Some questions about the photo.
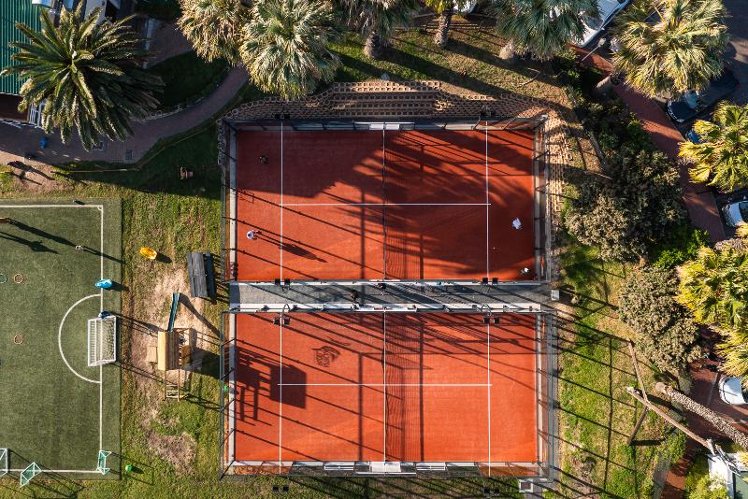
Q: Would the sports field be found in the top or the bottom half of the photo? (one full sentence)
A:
It is in the bottom half that the sports field appears.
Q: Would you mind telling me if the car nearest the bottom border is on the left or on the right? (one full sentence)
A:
The car nearest the bottom border sits on the right side.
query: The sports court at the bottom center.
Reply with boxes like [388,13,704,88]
[224,298,549,476]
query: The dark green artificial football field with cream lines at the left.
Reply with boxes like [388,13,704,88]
[0,199,123,480]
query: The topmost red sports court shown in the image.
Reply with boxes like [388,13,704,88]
[223,118,546,293]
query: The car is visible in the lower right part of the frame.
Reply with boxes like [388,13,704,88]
[719,376,748,410]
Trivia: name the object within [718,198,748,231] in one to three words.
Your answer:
car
